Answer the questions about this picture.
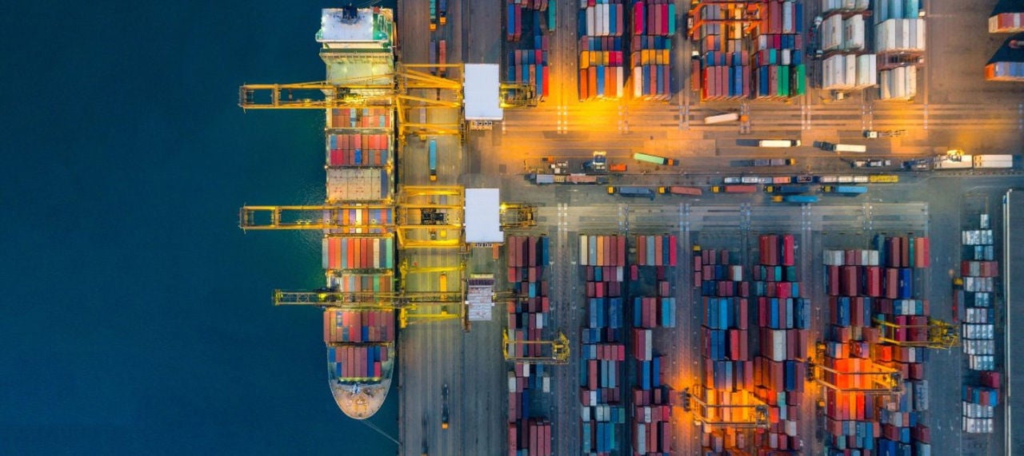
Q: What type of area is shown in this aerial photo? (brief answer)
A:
port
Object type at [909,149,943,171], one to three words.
work vehicle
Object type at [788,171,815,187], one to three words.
work vehicle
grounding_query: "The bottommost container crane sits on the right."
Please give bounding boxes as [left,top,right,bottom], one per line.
[689,390,774,429]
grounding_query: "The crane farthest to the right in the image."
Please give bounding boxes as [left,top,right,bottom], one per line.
[871,314,970,349]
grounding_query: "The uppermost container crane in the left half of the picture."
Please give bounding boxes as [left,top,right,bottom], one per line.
[239,63,536,149]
